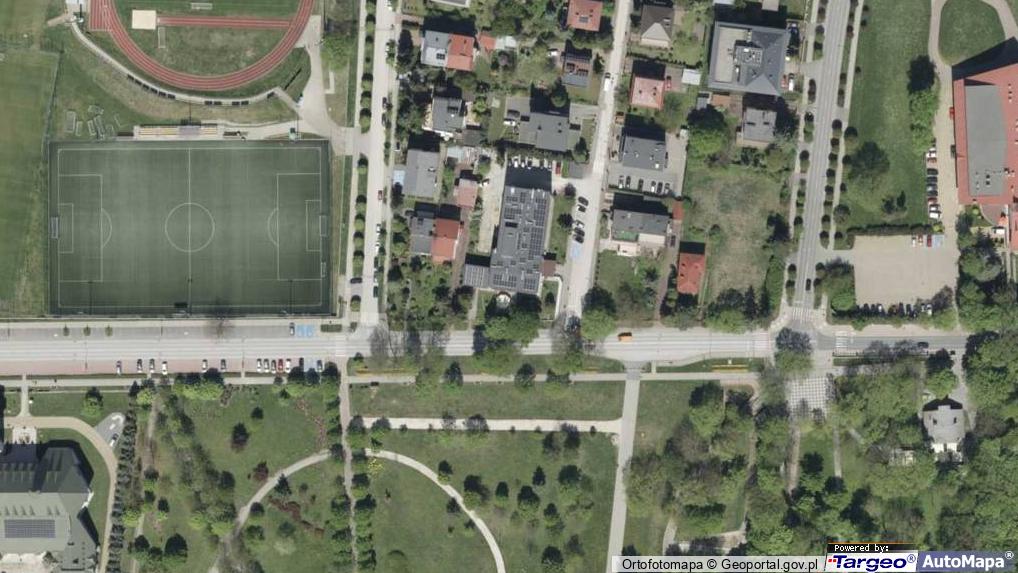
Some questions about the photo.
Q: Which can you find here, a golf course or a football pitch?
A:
football pitch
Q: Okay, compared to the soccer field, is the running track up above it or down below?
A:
above it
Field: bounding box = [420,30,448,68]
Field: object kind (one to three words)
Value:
house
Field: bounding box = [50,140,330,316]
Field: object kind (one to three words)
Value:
soccer field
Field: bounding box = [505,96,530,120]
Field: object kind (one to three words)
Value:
building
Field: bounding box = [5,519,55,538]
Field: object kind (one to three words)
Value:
solar panel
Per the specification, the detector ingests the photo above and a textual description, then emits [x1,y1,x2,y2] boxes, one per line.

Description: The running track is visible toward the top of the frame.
[89,0,314,91]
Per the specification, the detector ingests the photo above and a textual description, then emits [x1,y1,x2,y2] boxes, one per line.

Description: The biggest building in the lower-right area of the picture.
[923,404,965,444]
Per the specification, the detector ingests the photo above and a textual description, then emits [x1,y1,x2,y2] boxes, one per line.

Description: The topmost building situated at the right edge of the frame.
[953,64,1018,206]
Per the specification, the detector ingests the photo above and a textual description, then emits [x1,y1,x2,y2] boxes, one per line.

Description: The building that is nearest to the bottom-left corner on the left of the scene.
[0,447,98,573]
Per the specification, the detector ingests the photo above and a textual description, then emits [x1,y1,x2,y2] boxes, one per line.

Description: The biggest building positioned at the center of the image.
[491,185,551,295]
